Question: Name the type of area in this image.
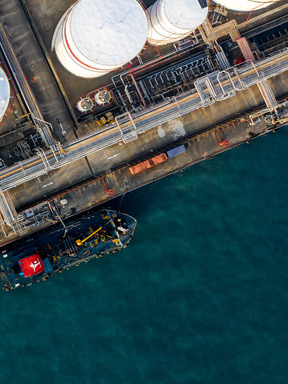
industrial area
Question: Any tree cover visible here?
No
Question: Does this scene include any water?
Yes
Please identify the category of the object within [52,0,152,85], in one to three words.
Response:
storage tank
